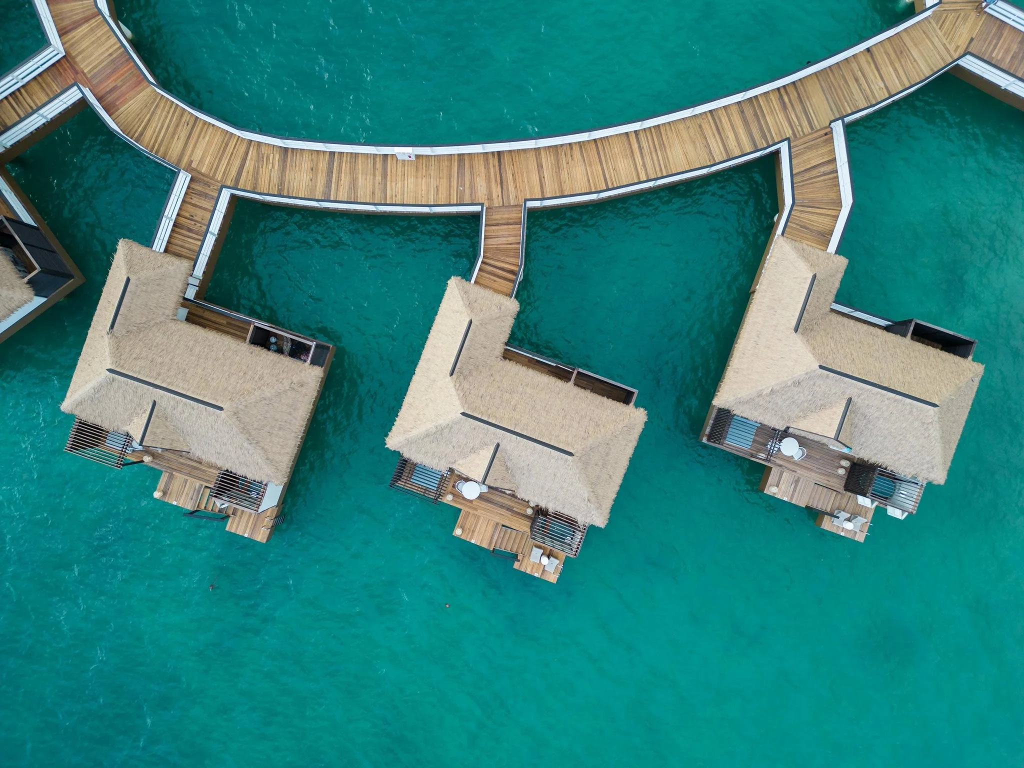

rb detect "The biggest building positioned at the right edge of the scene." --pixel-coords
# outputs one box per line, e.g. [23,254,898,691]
[696,231,981,541]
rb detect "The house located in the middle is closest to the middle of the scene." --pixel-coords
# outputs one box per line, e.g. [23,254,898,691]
[383,274,650,583]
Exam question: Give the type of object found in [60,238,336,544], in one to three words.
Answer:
house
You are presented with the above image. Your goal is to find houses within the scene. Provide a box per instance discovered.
[60,238,336,544]
[383,274,650,583]
[696,231,981,541]
[0,122,85,343]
